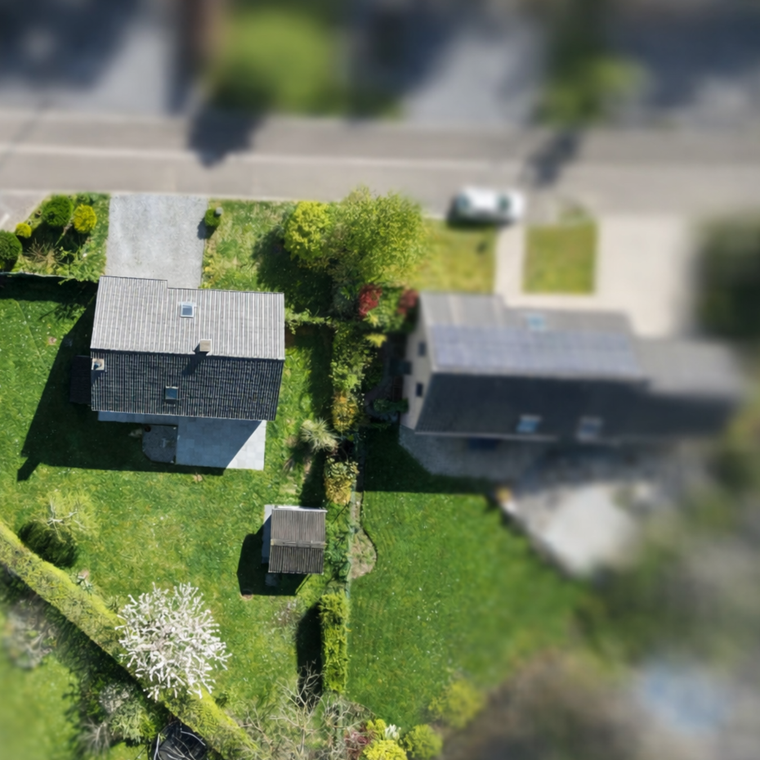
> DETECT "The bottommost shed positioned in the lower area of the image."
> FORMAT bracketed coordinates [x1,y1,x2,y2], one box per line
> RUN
[261,501,330,577]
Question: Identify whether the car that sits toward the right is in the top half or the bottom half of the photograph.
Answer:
top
